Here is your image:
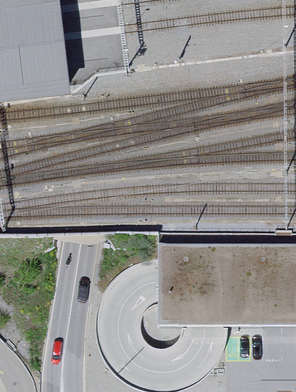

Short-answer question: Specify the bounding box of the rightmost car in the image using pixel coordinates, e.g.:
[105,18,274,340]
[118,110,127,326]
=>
[251,333,263,359]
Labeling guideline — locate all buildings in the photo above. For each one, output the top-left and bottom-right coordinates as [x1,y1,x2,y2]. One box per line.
[0,0,70,102]
[158,243,296,329]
